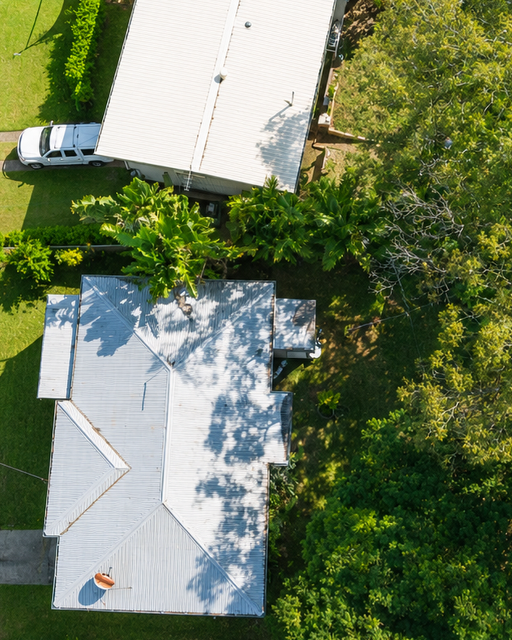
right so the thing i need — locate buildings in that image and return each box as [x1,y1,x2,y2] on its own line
[93,0,349,208]
[36,272,316,619]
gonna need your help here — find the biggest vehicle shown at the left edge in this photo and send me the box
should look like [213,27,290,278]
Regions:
[15,119,109,165]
